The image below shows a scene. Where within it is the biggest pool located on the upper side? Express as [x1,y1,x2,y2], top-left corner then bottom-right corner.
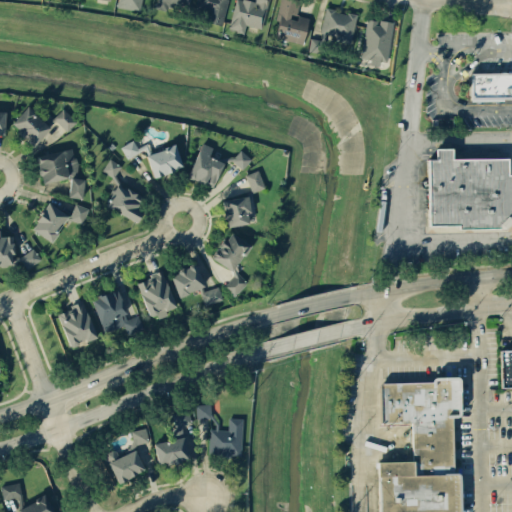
[142,126,170,147]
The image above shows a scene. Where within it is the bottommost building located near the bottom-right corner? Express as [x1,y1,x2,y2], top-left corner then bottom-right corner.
[378,462,465,512]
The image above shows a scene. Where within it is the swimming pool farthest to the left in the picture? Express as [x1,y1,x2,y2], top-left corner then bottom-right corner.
[112,434,132,450]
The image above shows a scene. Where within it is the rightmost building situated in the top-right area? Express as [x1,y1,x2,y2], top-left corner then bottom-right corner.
[471,73,512,102]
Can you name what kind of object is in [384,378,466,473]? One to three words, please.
building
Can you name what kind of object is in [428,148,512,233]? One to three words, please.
building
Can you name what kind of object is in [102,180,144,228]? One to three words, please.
house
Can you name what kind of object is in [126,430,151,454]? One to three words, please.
house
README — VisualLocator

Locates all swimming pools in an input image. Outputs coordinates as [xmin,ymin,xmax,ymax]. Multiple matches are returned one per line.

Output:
[142,126,170,147]
[112,434,132,450]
